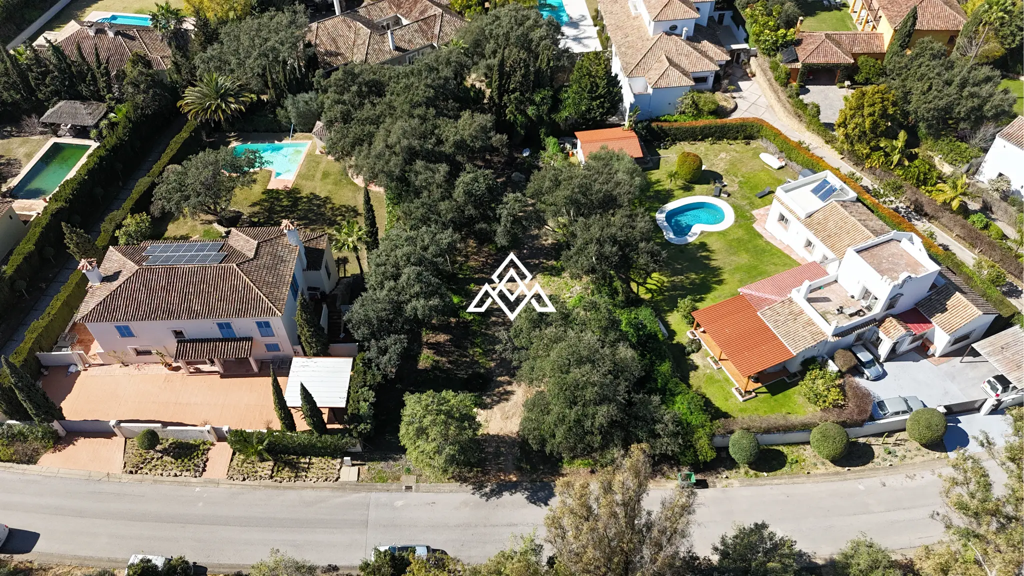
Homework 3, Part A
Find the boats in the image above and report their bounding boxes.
[758,150,785,168]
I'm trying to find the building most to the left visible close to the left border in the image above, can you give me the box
[0,193,32,262]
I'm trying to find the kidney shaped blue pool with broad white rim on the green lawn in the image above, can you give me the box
[656,195,735,244]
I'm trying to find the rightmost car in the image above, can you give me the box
[980,371,1018,400]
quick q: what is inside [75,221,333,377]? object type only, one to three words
house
